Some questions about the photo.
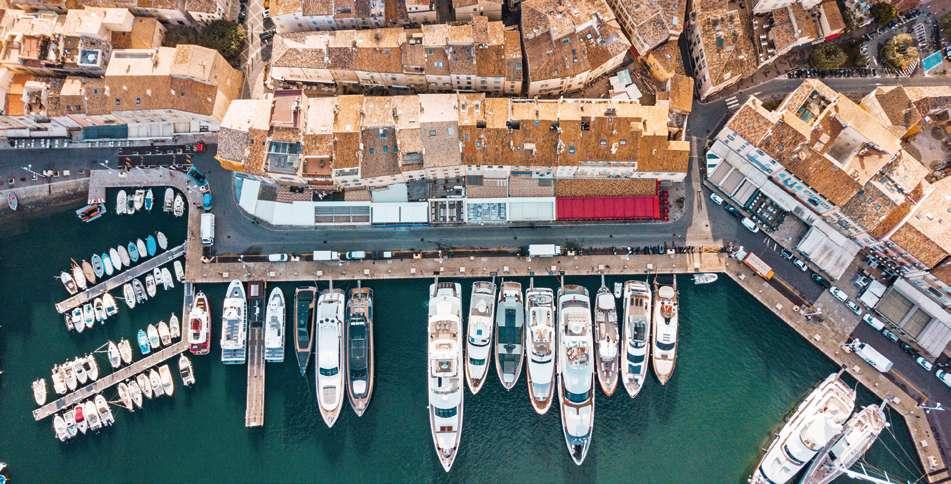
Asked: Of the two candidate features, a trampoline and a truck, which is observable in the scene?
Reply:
truck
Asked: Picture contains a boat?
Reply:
Yes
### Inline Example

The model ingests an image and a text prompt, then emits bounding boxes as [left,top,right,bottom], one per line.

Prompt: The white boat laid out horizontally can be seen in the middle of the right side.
[691,272,719,284]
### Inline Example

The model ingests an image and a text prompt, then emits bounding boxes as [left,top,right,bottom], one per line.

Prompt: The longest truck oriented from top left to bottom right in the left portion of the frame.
[185,164,208,190]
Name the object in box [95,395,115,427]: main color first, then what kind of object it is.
white boat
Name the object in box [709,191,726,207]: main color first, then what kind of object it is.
white car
